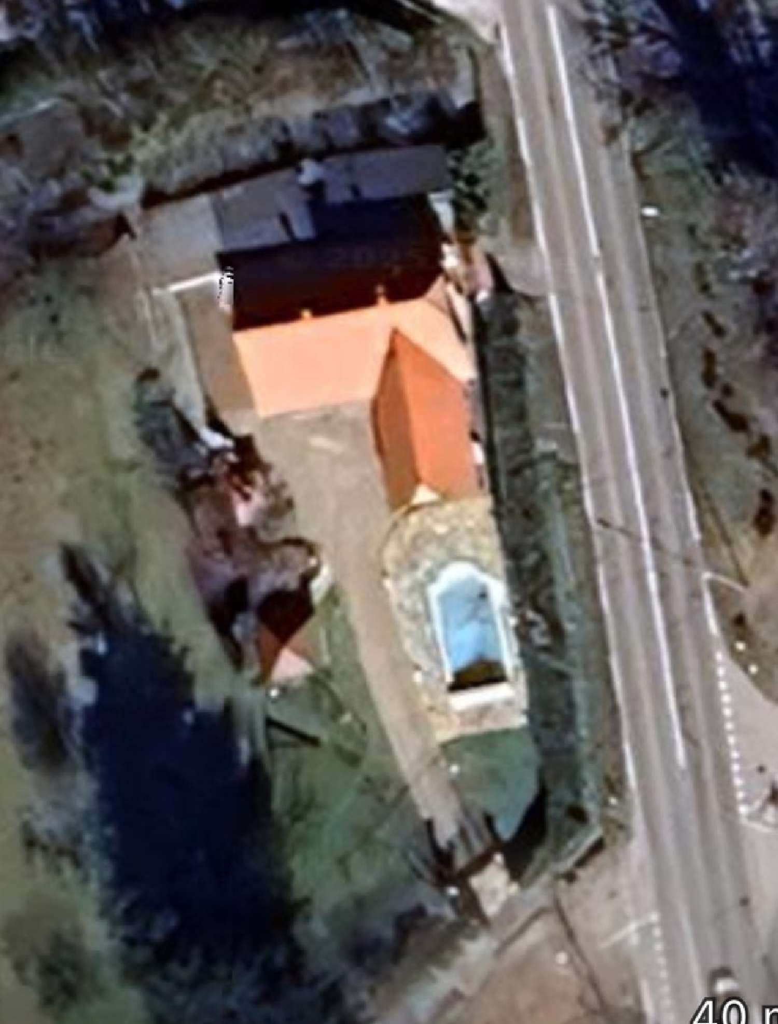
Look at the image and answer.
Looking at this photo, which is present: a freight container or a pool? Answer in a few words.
pool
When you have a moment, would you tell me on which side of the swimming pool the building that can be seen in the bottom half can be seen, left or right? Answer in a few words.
to the left of it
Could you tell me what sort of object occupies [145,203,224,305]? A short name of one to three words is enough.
shed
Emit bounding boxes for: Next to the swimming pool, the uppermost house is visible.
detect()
[235,242,488,517]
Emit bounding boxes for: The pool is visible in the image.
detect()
[428,564,514,698]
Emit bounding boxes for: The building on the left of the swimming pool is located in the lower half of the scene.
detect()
[256,606,325,687]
